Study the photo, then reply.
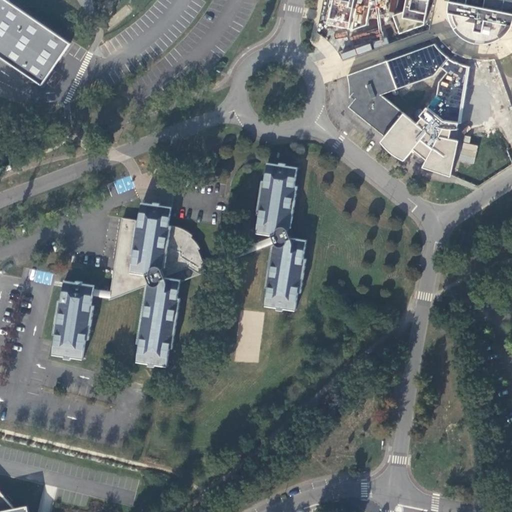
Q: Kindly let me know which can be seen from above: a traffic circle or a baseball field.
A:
traffic circle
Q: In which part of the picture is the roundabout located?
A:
top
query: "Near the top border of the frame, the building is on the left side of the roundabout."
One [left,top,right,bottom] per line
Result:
[0,0,70,84]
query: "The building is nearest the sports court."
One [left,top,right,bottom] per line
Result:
[264,234,308,312]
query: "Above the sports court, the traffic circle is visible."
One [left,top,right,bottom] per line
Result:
[218,36,337,142]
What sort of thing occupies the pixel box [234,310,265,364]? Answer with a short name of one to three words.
sports court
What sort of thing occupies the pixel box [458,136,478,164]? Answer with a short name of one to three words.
building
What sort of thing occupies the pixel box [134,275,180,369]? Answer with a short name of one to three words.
building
